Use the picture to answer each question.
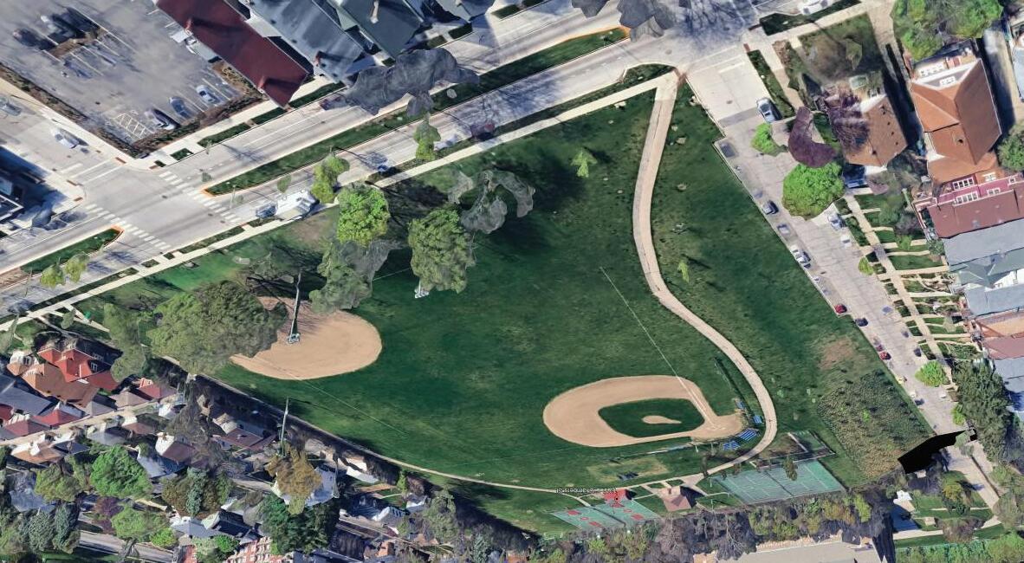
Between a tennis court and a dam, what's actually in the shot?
tennis court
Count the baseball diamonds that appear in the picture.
2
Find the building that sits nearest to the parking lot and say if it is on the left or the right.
left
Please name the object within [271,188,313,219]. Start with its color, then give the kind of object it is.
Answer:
white bus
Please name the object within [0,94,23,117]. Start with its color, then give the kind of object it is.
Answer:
gray car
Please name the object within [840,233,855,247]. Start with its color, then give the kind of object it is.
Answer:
white car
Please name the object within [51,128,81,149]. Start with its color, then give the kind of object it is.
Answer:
white car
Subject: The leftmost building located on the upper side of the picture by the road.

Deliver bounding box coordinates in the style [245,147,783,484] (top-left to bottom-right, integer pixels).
[0,159,44,228]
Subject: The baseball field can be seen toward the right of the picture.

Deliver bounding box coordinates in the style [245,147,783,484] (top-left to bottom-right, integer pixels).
[543,269,745,447]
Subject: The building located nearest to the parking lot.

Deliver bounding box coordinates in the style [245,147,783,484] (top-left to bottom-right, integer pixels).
[141,0,316,108]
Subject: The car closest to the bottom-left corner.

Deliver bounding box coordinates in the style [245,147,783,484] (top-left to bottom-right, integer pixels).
[10,301,30,314]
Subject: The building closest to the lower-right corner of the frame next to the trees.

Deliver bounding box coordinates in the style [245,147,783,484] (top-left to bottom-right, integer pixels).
[891,485,918,510]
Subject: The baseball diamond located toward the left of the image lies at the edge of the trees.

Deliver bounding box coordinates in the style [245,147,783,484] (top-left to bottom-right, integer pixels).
[210,267,415,437]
